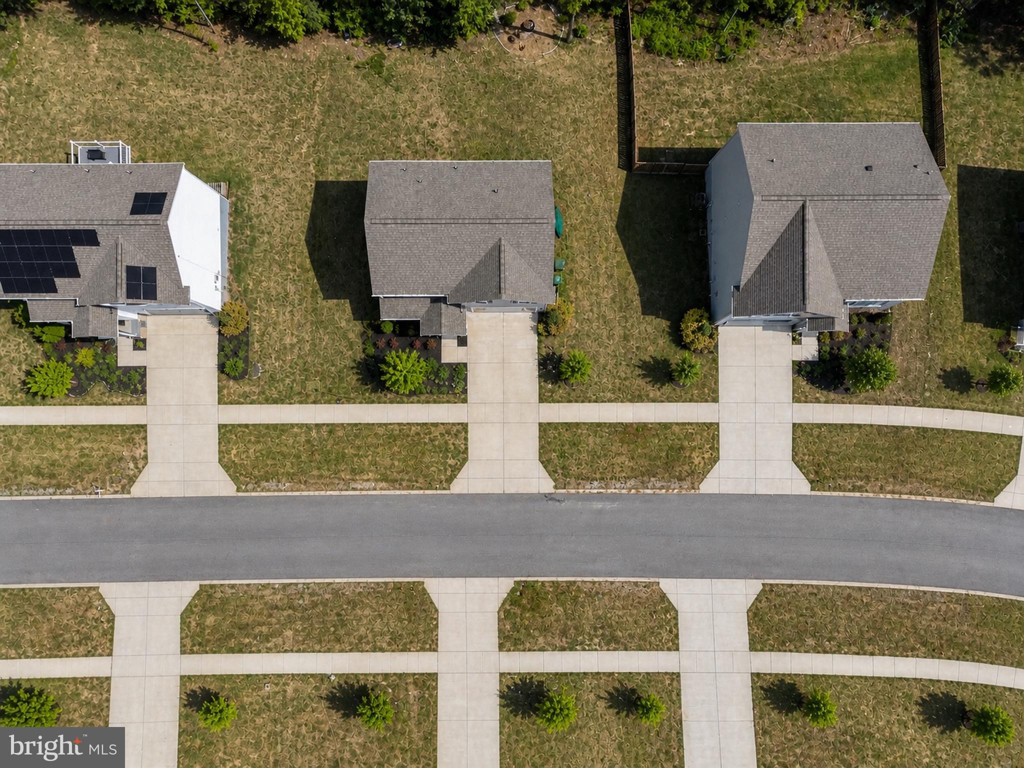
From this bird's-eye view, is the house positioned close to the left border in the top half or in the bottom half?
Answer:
top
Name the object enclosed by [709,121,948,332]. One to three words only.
house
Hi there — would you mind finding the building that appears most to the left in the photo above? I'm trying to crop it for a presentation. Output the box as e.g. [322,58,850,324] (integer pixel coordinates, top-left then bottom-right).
[0,162,226,338]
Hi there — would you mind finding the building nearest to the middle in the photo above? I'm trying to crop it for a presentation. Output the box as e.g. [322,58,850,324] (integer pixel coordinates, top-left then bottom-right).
[363,159,557,335]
